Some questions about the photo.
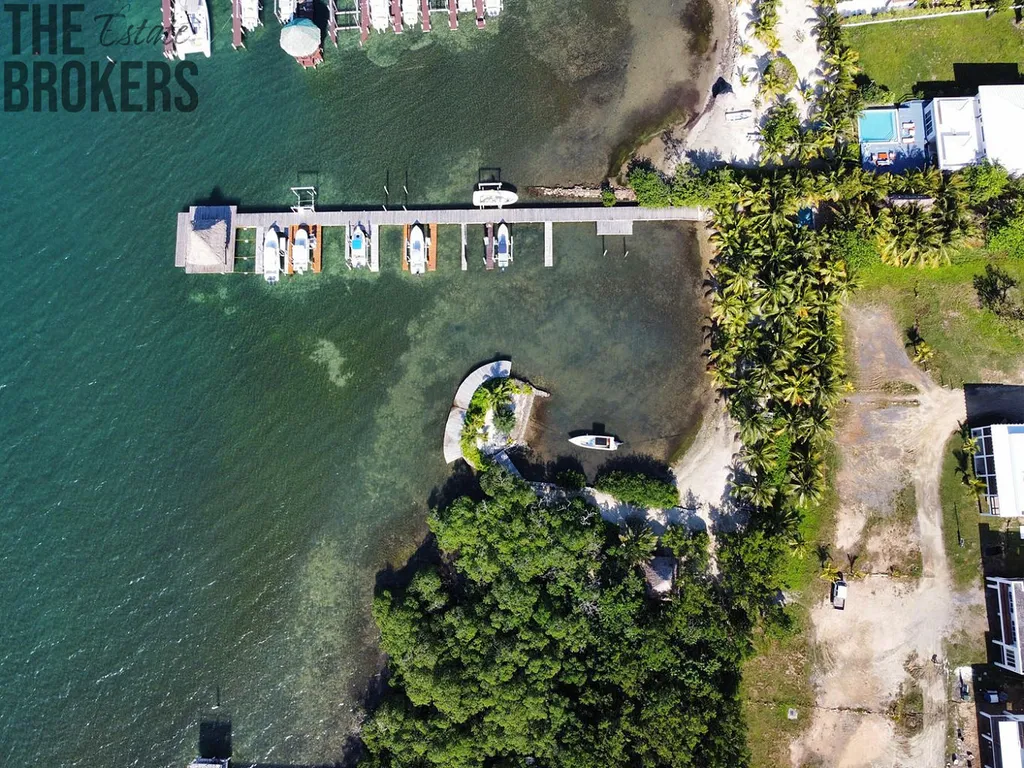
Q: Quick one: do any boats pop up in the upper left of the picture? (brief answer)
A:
Yes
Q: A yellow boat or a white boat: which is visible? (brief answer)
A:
white boat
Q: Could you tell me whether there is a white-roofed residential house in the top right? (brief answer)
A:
Yes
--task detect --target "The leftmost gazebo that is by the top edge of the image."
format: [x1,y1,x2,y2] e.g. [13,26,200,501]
[281,0,325,71]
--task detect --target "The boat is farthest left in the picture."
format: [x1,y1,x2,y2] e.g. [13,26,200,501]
[174,0,214,63]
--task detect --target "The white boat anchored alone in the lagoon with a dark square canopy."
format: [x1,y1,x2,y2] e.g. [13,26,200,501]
[569,435,621,452]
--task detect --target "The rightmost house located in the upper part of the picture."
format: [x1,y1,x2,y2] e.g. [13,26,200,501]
[922,83,1024,185]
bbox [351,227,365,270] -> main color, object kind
white boat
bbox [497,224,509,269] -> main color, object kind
white boat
